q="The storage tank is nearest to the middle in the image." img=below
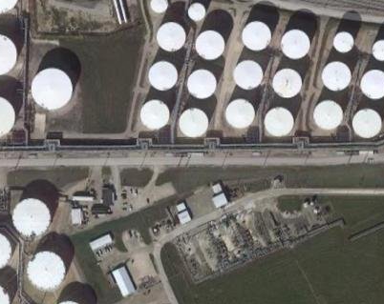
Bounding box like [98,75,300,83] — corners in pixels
[179,108,210,138]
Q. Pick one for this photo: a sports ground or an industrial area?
industrial area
